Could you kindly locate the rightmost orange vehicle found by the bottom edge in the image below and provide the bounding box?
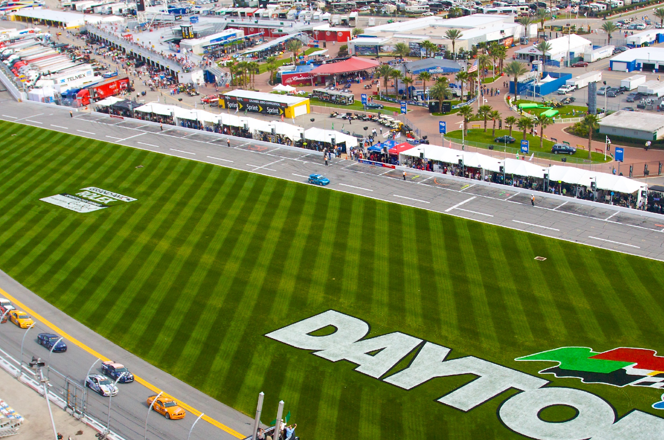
[148,392,187,420]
